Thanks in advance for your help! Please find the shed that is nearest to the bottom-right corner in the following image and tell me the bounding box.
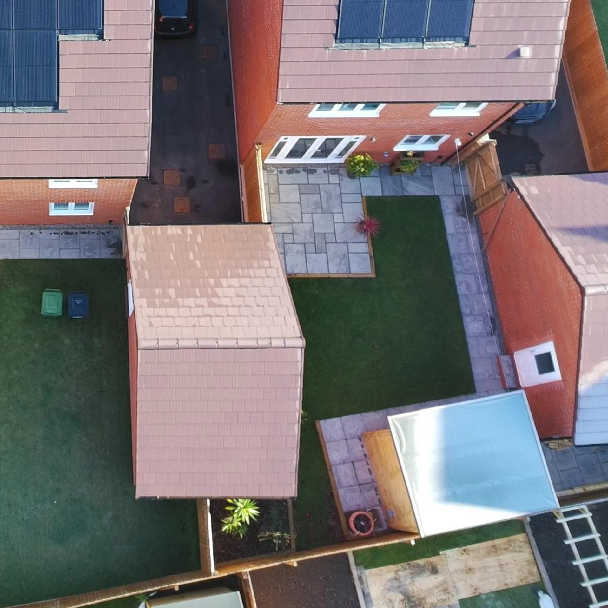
[361,384,564,540]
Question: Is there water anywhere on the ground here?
No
